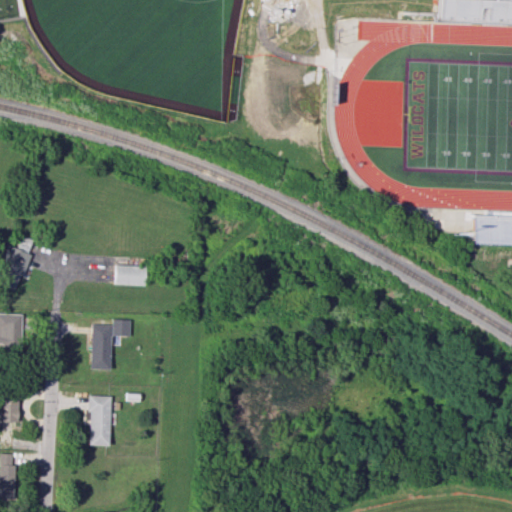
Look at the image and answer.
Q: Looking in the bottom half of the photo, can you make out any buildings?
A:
Yes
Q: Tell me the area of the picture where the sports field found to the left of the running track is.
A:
top left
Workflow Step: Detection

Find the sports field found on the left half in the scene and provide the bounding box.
[24,0,243,122]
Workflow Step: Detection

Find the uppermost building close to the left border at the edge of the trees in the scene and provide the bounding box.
[4,240,36,291]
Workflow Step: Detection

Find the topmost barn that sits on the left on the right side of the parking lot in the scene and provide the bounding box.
[114,264,147,288]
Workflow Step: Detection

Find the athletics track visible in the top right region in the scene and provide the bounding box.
[334,22,512,209]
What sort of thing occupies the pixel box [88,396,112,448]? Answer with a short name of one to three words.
house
